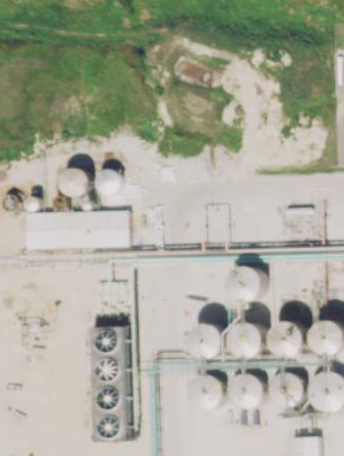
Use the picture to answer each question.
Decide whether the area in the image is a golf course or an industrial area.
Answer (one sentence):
It's an industrial area.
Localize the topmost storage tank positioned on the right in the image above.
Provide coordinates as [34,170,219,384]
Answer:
[226,265,270,302]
